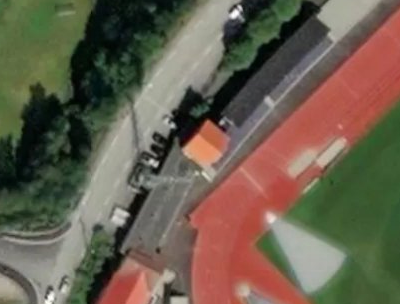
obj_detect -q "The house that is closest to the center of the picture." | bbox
[182,119,231,167]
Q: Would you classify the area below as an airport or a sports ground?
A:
sports ground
